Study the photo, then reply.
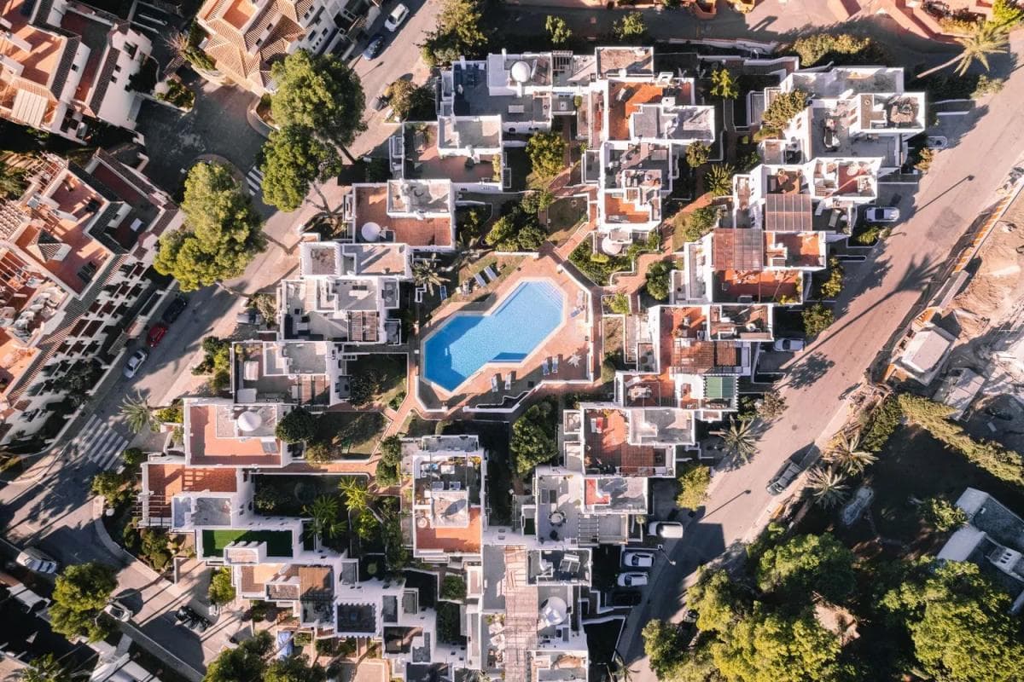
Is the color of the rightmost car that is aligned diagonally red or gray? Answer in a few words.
gray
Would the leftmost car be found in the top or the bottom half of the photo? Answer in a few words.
bottom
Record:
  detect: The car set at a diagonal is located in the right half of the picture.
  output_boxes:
[762,460,801,494]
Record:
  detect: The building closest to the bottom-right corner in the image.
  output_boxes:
[915,479,1024,620]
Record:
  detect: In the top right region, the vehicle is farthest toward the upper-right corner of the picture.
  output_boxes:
[920,134,949,150]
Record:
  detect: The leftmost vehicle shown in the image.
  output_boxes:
[19,546,56,573]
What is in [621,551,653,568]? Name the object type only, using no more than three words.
car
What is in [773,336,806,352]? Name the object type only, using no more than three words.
car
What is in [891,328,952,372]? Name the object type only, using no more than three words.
building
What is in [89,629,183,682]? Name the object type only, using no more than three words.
house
